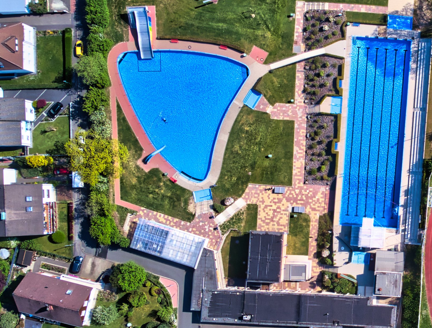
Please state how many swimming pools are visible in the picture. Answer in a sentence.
In total, there are 2 swimming pools in the scene.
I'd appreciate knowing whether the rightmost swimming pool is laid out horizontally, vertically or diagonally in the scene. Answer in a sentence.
Seen from above, the rightmost swimming pool lies vertically.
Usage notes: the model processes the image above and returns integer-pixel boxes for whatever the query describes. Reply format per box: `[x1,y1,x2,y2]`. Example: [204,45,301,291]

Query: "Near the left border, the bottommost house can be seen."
[12,272,108,328]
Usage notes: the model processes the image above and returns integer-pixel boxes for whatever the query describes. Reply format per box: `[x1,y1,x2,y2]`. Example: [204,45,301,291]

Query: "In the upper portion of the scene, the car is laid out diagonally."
[48,101,62,119]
